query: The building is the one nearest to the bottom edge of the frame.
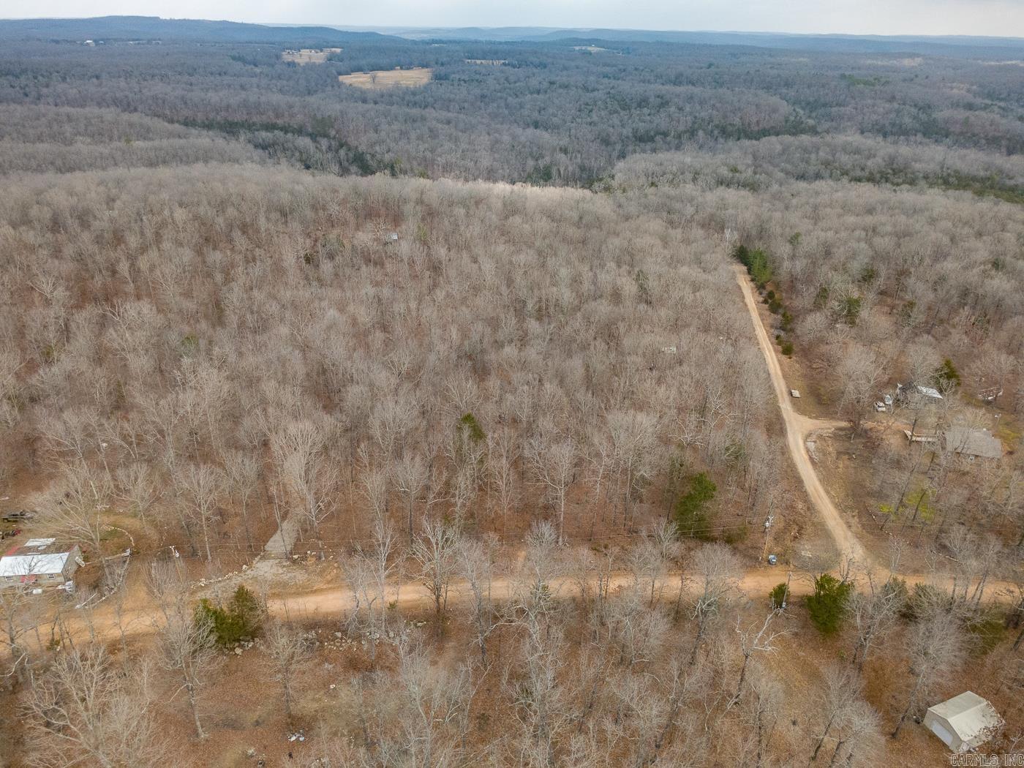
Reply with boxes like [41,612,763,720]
[924,688,1004,753]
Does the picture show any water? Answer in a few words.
No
